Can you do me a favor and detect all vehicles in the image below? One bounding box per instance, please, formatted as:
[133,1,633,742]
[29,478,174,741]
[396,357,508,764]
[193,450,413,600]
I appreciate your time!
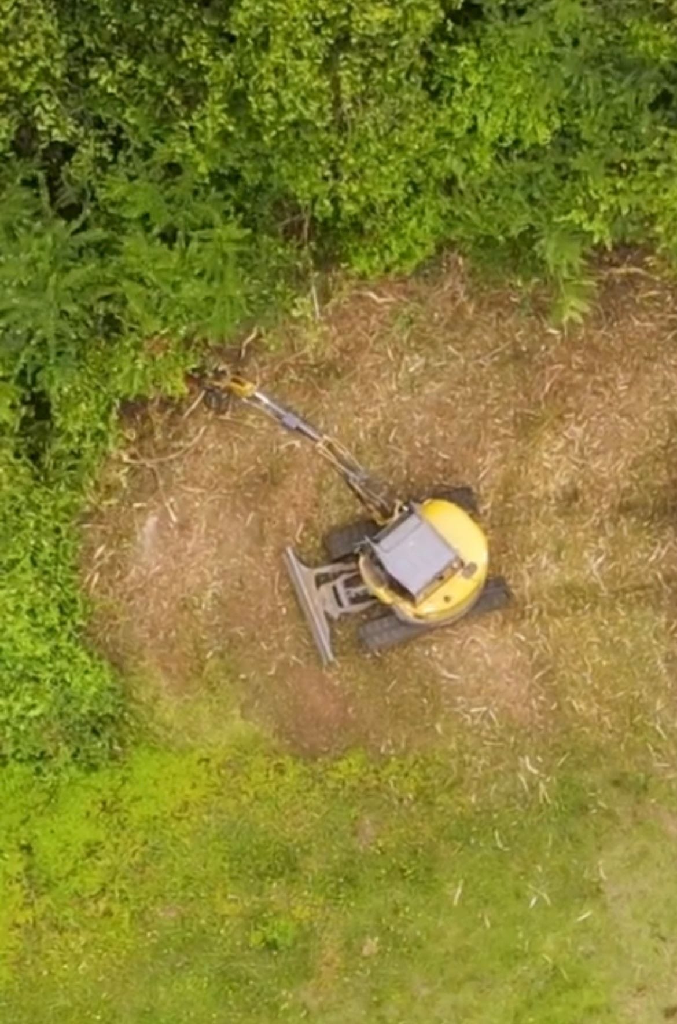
[193,363,513,665]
